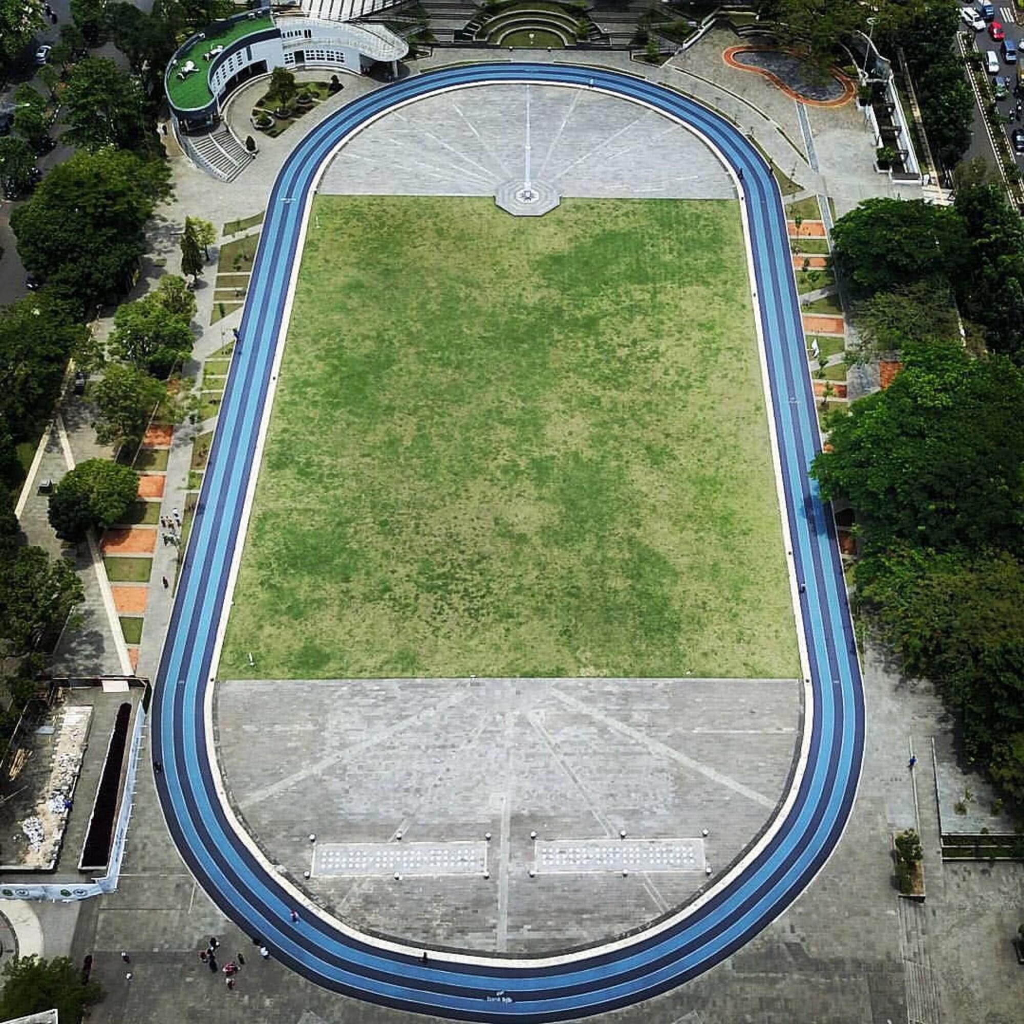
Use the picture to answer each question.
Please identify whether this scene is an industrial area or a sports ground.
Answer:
sports ground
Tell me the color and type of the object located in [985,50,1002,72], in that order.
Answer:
white vehicle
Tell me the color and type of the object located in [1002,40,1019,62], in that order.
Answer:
blue vehicle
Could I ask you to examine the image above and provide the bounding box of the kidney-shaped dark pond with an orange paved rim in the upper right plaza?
[723,44,855,106]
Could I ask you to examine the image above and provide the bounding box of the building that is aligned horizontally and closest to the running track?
[275,18,409,79]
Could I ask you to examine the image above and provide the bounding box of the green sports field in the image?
[214,194,800,681]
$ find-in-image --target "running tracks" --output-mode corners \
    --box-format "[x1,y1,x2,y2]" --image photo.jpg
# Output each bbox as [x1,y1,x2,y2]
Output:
[147,61,867,1024]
